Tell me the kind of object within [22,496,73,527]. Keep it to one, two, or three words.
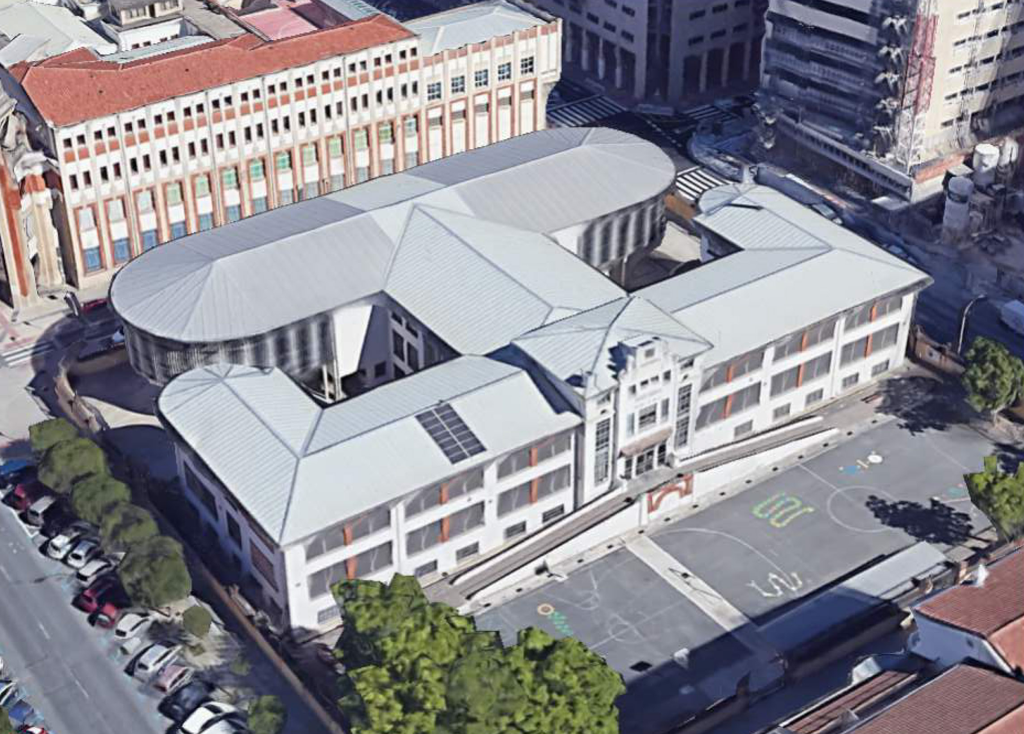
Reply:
car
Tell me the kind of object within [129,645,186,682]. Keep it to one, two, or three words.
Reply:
car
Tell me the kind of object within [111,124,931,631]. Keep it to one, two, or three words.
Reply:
building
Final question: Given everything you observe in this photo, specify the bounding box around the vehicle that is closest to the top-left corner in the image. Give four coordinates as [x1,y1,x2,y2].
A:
[85,287,112,311]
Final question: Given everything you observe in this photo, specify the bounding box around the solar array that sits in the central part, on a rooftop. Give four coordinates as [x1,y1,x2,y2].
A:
[413,397,495,468]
